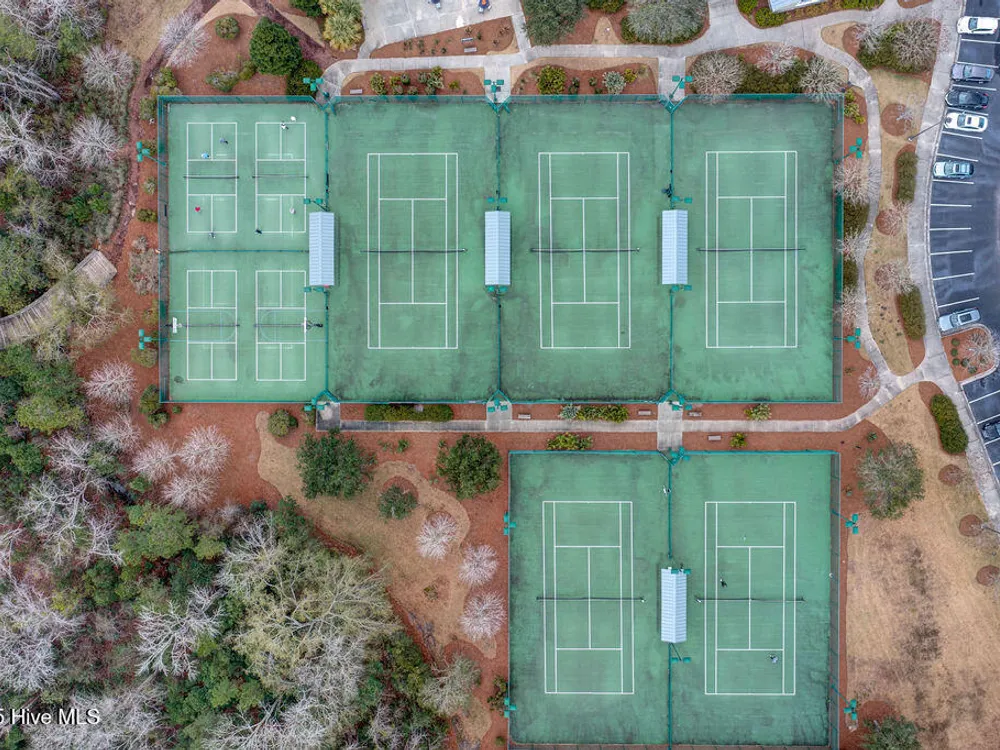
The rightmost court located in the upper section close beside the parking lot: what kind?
tennis court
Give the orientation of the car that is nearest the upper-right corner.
from left to right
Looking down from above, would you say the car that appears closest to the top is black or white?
white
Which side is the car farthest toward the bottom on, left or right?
right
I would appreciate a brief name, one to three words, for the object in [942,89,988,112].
car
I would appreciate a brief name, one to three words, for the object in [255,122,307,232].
sports court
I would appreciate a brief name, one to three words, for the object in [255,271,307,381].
sports court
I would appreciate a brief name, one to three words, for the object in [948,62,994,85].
car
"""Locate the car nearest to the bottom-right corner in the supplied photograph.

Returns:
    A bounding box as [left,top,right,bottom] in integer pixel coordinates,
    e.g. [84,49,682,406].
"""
[978,415,1000,438]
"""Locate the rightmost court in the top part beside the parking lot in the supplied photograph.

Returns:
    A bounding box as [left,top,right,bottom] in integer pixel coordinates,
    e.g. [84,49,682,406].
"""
[672,103,833,402]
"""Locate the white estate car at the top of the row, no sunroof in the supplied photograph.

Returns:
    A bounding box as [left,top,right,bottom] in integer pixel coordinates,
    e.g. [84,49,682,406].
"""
[953,15,998,38]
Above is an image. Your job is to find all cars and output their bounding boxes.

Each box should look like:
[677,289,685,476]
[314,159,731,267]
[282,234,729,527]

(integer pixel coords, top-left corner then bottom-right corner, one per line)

[942,89,988,112]
[936,308,981,332]
[948,62,994,85]
[941,111,986,134]
[953,15,998,38]
[931,159,974,180]
[978,415,1000,438]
